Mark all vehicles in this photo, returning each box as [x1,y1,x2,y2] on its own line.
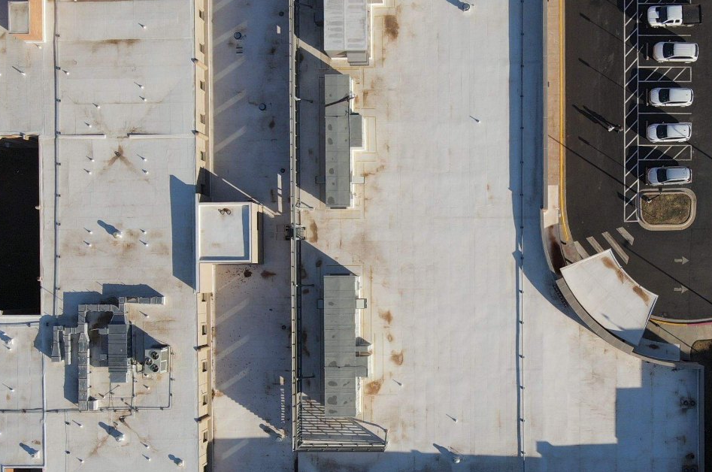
[646,2,703,28]
[651,40,700,63]
[646,120,692,142]
[647,85,693,108]
[646,163,692,186]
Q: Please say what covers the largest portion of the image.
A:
buildings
